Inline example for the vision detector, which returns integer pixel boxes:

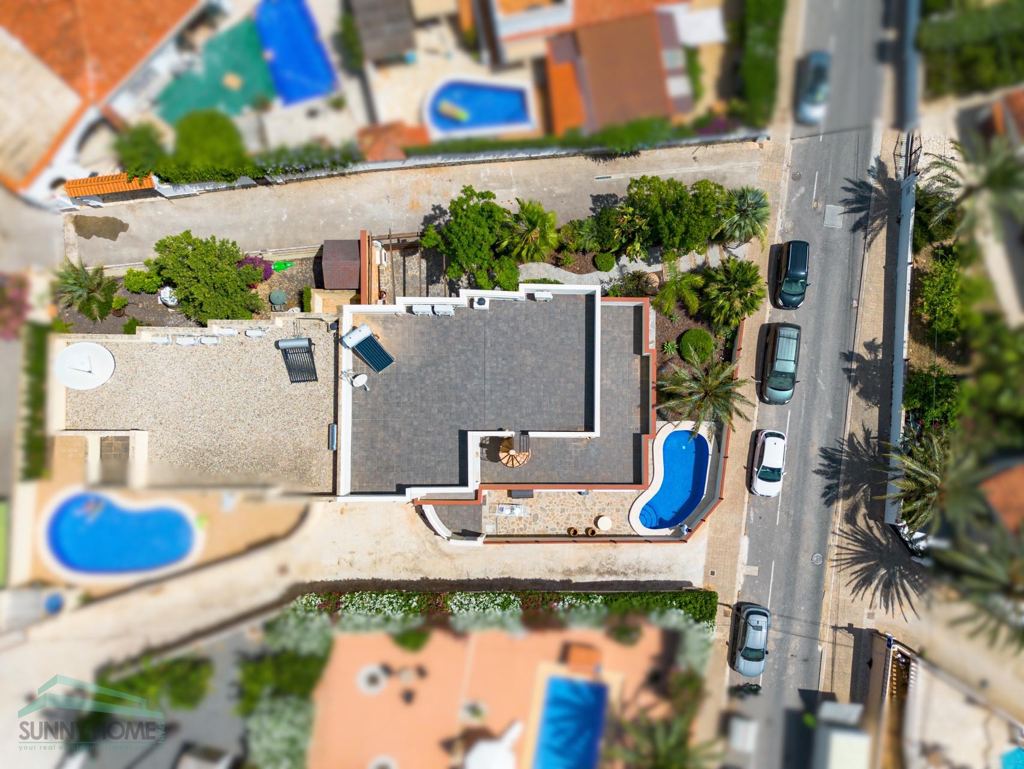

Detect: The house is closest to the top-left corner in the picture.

[0,0,231,203]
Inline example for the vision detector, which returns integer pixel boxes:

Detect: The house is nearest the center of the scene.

[337,284,657,505]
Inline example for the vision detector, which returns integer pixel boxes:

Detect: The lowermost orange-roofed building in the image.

[567,642,603,674]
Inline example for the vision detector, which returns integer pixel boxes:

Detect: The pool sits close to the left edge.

[41,484,203,582]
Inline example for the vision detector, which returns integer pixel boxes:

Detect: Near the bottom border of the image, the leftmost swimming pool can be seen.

[527,667,617,769]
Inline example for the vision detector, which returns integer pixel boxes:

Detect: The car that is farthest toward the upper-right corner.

[795,55,833,128]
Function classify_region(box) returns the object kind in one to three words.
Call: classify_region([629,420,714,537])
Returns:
swimming pool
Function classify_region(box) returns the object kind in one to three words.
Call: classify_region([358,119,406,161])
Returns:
shed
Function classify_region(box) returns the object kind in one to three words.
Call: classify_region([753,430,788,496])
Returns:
car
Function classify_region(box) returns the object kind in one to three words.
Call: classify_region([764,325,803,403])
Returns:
car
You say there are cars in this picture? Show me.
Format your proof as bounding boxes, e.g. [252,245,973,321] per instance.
[795,55,833,128]
[734,603,771,676]
[764,325,803,403]
[753,430,788,496]
[776,240,813,310]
